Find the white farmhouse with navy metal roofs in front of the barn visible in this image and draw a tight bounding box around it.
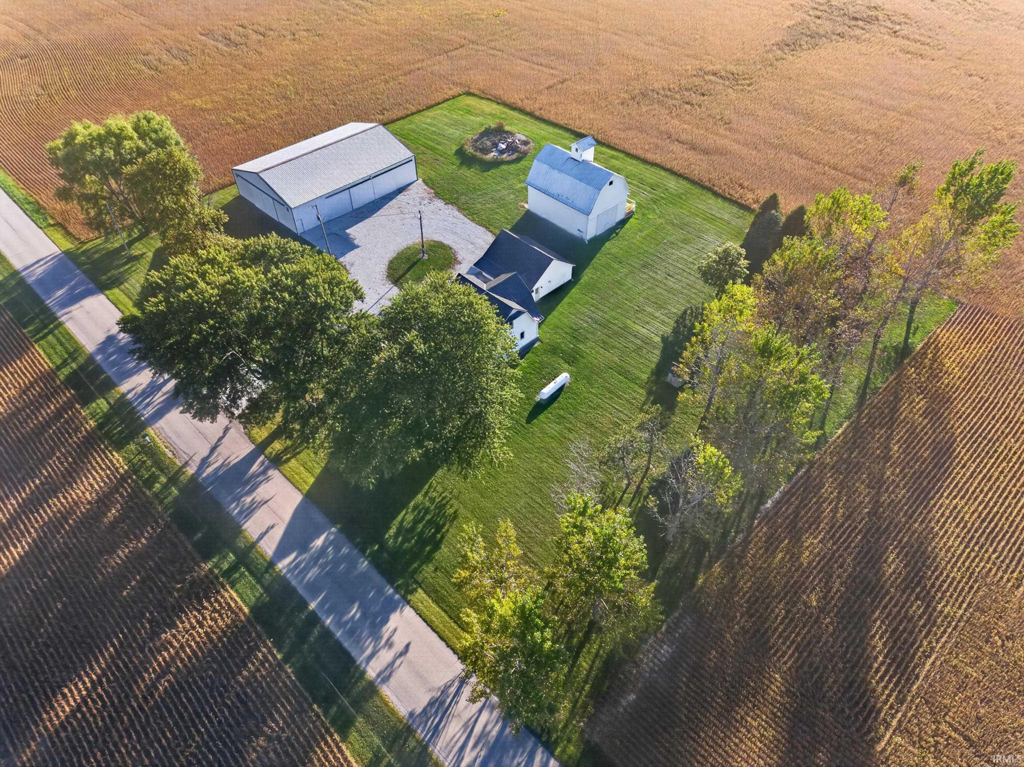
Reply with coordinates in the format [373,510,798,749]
[451,231,577,350]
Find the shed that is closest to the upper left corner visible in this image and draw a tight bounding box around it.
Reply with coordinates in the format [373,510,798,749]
[231,122,418,235]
